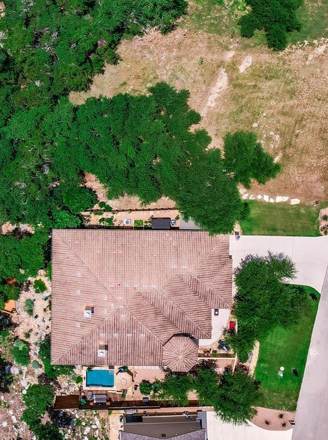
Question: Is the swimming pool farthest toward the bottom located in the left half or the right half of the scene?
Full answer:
You can find the swimming pool farthest toward the bottom on the left side of the picture.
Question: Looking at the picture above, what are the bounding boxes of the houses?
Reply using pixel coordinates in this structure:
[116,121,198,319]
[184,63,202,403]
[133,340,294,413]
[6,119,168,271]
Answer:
[50,228,233,374]
[121,412,207,440]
